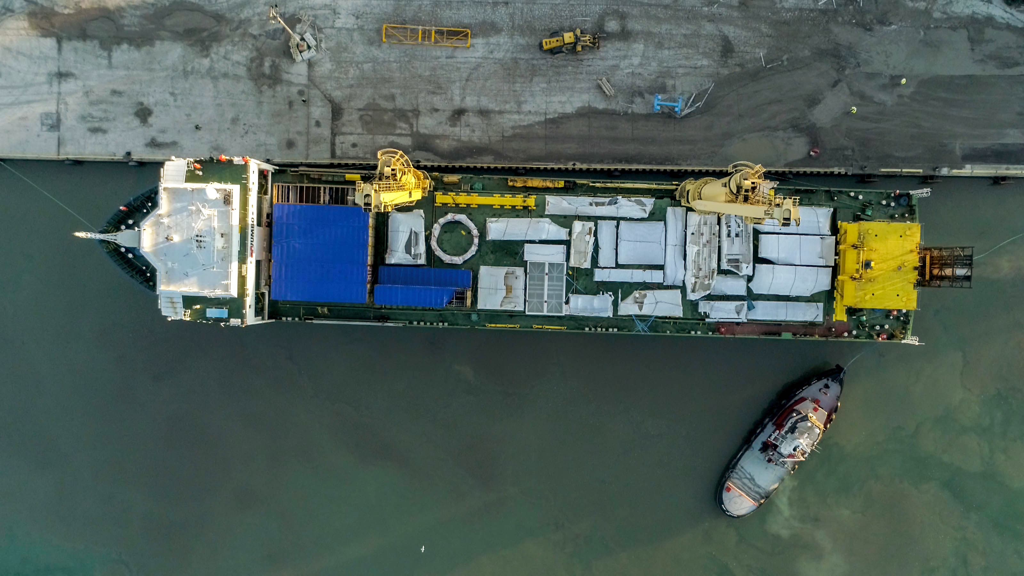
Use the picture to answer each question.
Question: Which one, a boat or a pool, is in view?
boat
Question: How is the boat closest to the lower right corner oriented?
at an angle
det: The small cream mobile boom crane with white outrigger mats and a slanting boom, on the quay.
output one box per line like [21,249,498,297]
[270,4,317,64]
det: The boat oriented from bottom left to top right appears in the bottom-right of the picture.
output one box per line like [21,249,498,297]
[717,364,848,517]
